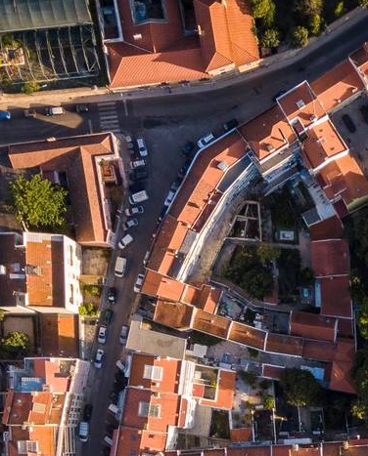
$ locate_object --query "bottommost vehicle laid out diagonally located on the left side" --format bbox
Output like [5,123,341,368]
[100,433,116,448]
